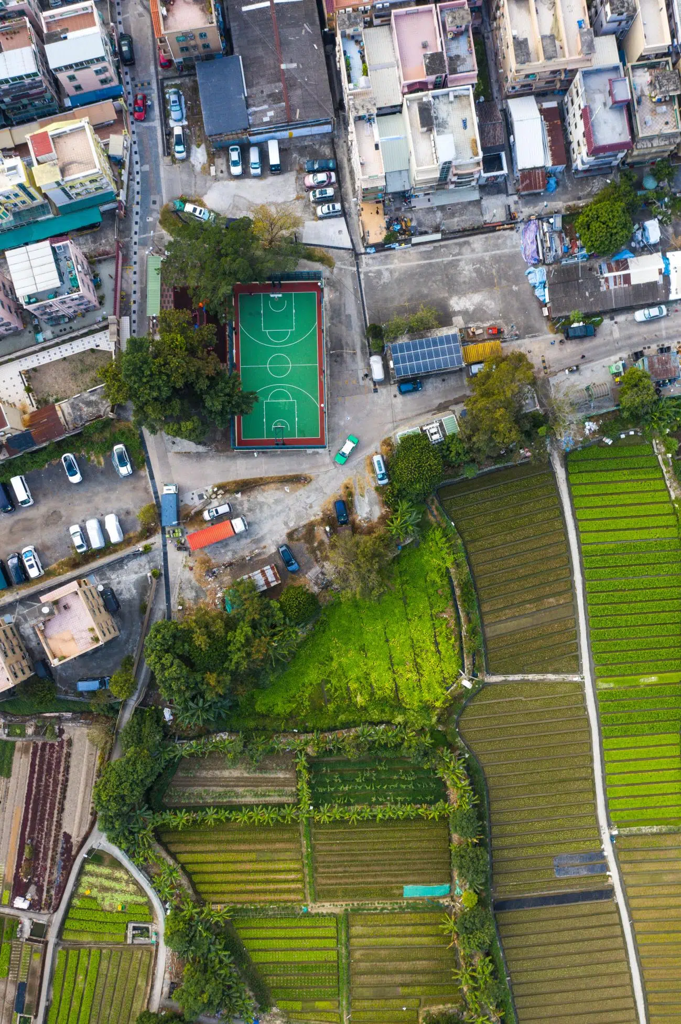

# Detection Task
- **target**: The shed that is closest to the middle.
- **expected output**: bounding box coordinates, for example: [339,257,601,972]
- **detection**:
[239,563,283,592]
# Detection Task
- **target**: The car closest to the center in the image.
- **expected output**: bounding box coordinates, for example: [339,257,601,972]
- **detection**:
[334,498,349,526]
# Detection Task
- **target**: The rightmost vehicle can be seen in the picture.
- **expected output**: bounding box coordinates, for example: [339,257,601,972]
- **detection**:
[633,306,667,322]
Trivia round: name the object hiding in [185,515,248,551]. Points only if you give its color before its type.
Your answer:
red truck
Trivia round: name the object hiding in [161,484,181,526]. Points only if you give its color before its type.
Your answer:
blue vehicle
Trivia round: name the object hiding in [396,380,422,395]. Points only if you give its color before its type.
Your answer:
blue car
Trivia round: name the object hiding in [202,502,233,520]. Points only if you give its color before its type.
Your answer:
white car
